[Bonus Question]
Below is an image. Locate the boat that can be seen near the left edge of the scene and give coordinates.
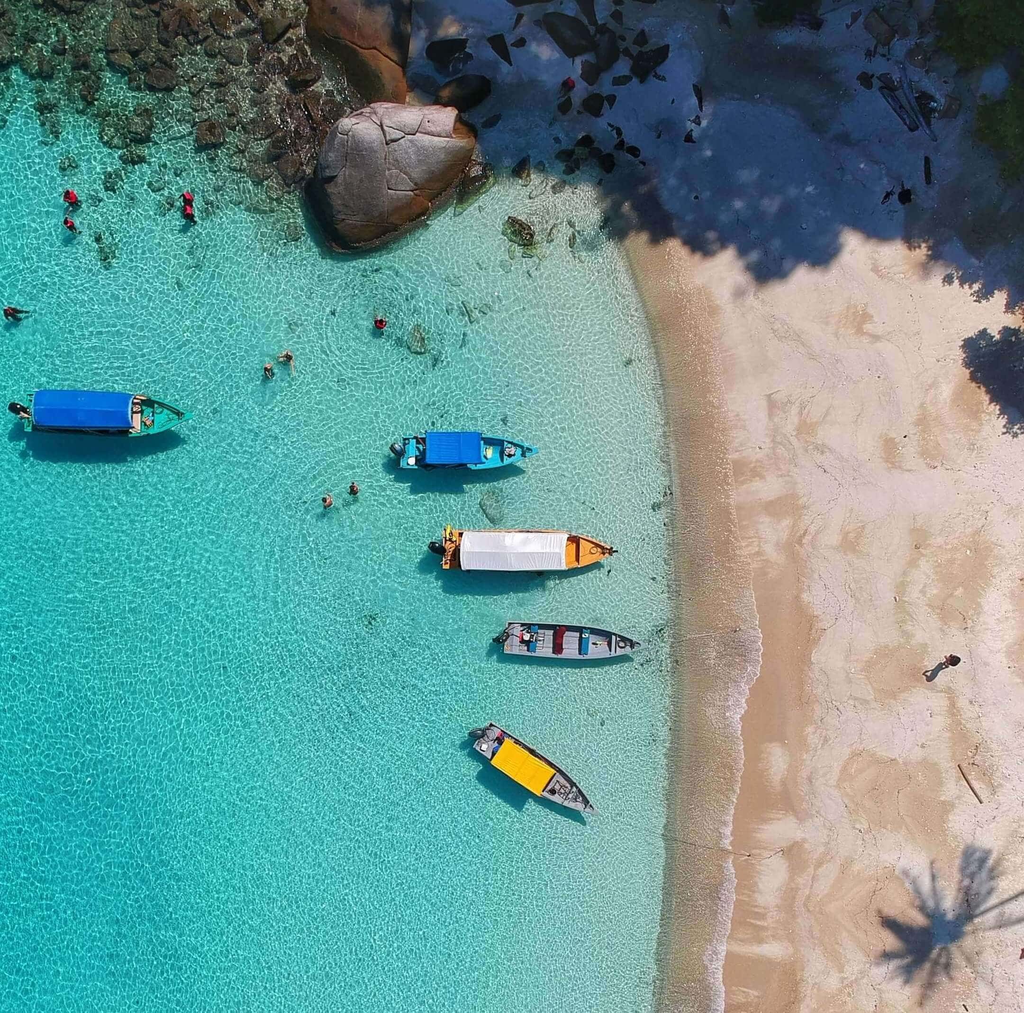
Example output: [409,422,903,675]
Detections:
[5,390,196,434]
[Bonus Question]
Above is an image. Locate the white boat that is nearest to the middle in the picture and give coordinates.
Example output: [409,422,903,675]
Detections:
[430,530,617,571]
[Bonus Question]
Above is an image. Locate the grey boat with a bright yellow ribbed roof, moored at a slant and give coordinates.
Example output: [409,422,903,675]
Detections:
[474,720,599,815]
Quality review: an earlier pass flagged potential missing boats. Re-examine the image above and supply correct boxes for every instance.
[494,622,647,658]
[5,390,196,434]
[430,530,617,571]
[474,720,599,815]
[388,433,538,469]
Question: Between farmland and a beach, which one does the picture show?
beach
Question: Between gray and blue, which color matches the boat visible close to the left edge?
blue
